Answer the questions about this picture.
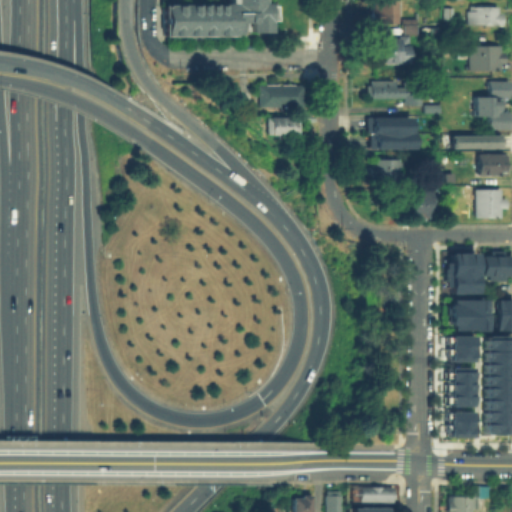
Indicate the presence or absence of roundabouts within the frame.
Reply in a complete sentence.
No, I can see no roundabout in this picture.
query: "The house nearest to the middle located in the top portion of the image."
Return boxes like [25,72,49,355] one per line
[268,118,302,136]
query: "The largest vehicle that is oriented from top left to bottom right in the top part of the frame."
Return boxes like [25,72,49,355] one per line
[229,171,248,188]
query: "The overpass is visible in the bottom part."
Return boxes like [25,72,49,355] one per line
[0,441,322,484]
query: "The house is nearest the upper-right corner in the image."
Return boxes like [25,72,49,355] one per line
[468,7,507,28]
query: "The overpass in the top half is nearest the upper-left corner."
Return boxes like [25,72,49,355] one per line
[0,50,118,125]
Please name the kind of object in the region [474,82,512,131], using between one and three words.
house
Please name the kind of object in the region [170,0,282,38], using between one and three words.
building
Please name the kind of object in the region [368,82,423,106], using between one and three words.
house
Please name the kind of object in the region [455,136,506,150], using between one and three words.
building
